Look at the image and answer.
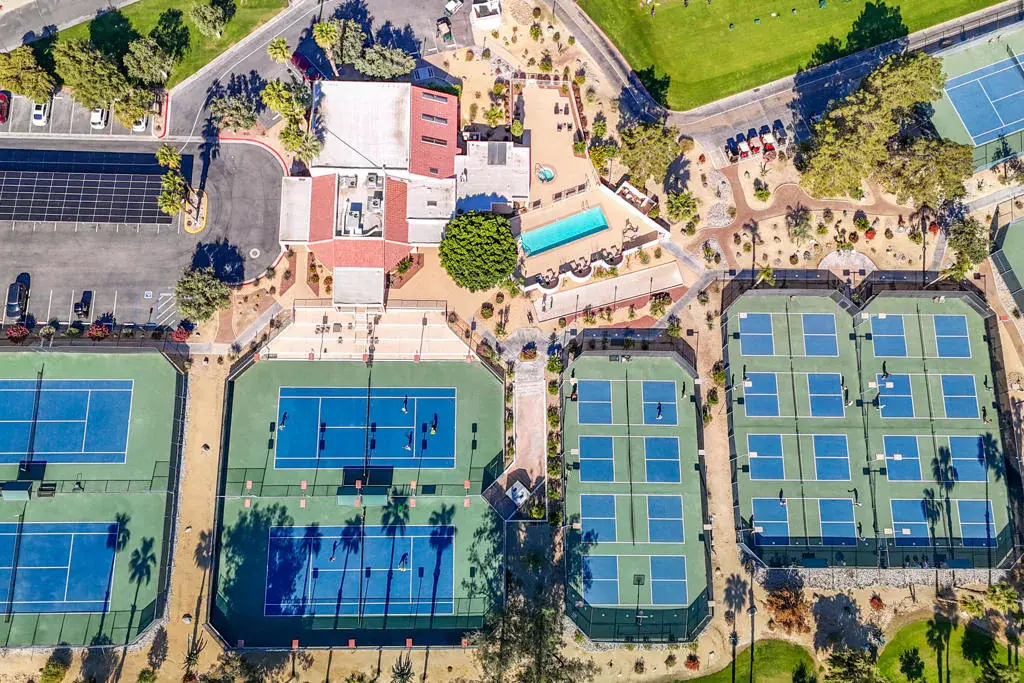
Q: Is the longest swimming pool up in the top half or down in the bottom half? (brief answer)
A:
top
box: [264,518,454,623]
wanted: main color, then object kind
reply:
blue tennis court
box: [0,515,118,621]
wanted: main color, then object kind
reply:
blue tennis court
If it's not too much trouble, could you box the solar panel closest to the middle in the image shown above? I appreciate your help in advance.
[488,143,505,166]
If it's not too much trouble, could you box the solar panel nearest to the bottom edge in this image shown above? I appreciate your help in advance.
[0,174,174,223]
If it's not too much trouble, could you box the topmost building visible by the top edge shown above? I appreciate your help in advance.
[472,0,503,41]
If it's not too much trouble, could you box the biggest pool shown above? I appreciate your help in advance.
[518,201,611,259]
